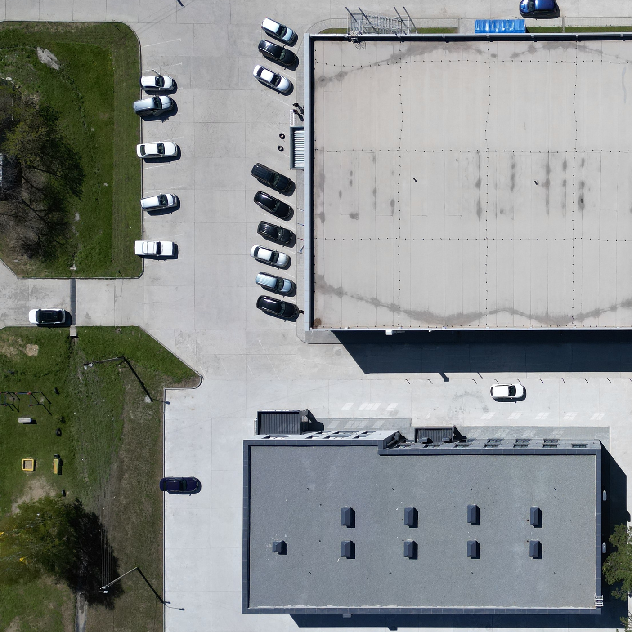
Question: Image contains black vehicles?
Yes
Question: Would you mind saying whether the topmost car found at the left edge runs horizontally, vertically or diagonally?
horizontally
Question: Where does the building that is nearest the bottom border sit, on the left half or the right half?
right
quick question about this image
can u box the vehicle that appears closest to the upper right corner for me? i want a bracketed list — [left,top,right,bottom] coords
[520,0,558,16]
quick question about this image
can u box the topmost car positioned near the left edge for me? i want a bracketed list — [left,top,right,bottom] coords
[27,306,67,326]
